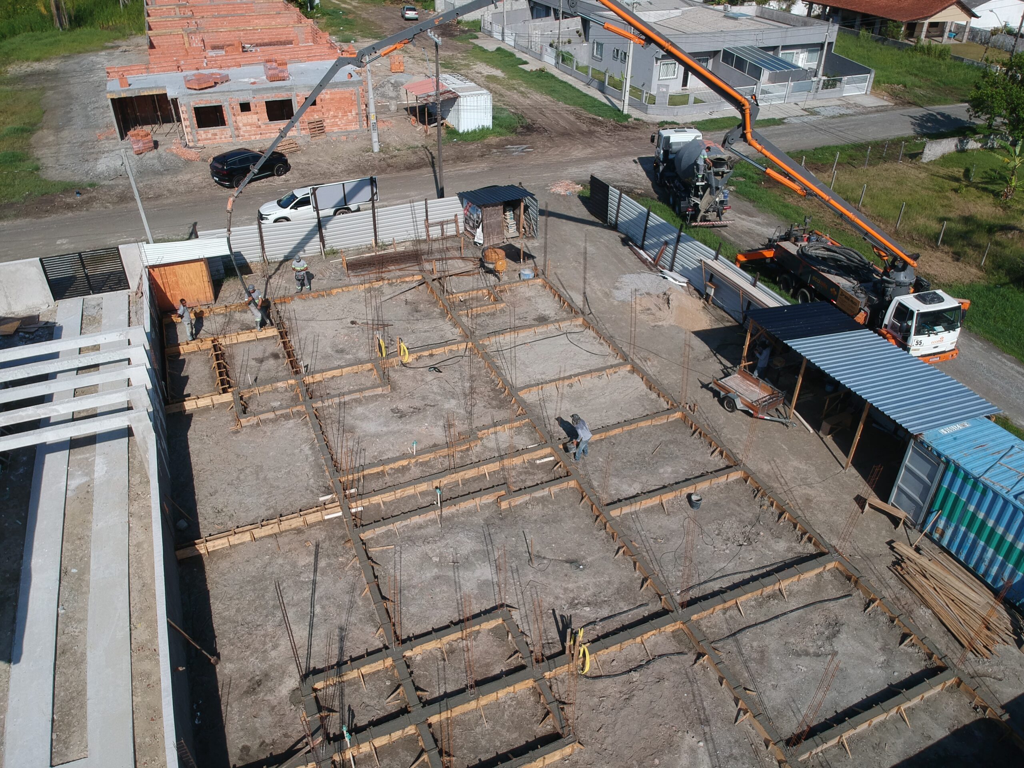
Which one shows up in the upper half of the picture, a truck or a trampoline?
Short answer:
truck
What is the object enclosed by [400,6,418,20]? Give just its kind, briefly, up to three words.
car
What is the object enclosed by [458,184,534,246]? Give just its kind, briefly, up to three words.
shed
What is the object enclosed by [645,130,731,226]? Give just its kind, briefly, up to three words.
truck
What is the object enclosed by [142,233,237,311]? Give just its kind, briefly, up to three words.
shed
